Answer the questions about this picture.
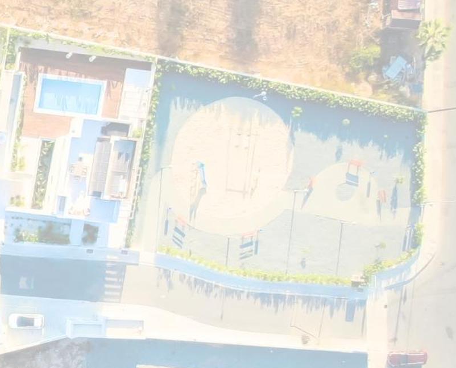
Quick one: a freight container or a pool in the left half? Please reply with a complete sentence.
The one visible in the left half is a pool.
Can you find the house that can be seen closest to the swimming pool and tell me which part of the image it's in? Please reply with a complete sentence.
Look in the left portion of the view to spot the house that can be seen closest to the swimming pool.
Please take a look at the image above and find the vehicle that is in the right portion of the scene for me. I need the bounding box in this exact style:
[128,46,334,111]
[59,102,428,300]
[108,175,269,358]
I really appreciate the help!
[386,350,426,367]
